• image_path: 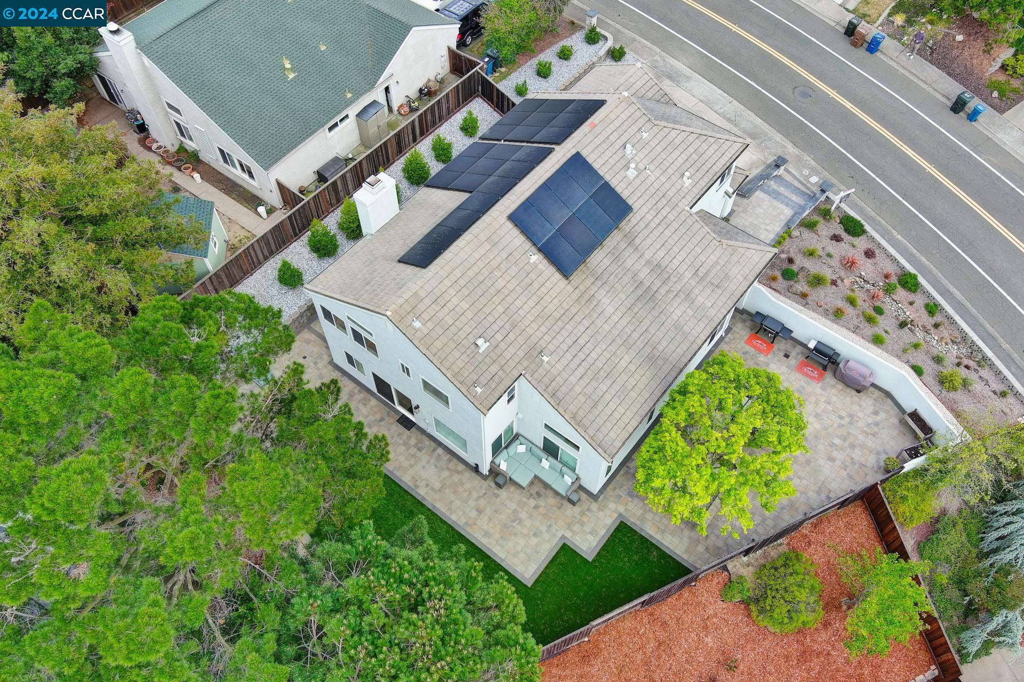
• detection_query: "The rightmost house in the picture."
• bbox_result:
[302,59,781,496]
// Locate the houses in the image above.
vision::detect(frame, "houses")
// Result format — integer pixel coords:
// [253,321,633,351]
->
[302,59,781,496]
[80,0,462,209]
